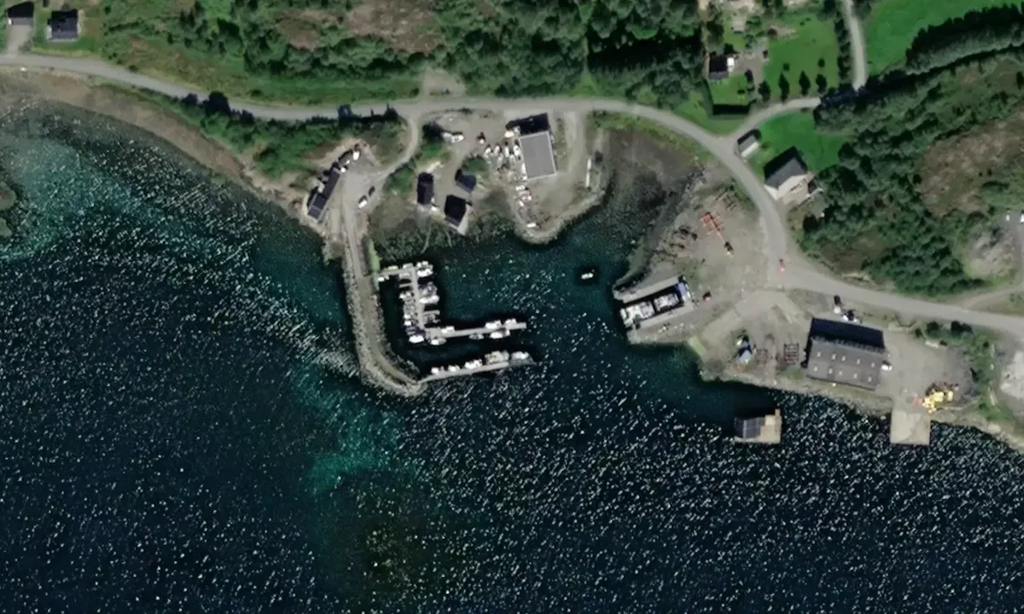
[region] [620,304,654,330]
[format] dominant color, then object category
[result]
white boat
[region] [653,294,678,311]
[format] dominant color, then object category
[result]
white boat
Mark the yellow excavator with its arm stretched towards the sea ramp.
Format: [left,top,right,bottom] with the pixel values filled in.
[923,390,946,406]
